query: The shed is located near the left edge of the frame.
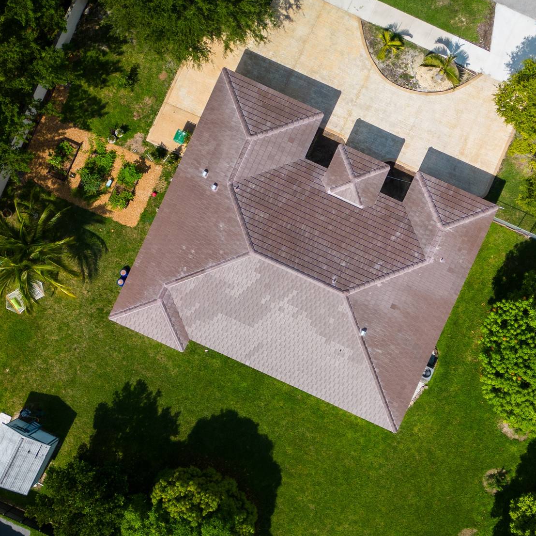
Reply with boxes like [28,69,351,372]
[0,416,58,494]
